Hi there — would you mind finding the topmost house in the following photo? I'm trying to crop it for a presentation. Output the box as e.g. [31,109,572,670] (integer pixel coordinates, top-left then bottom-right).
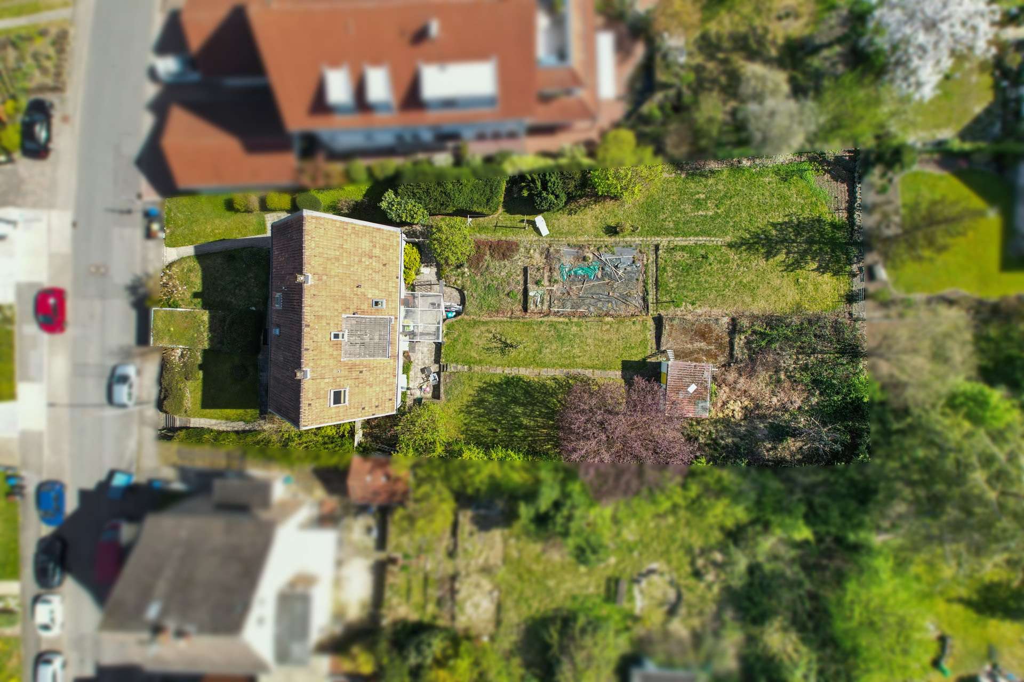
[159,0,597,193]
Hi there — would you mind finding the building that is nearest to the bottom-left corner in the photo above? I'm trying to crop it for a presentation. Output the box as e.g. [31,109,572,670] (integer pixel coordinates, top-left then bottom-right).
[97,471,344,682]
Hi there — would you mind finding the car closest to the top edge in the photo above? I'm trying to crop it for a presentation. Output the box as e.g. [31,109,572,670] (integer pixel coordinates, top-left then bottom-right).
[151,55,201,82]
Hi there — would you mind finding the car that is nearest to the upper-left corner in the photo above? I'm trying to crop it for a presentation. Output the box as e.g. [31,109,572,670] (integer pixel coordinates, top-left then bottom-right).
[21,103,51,156]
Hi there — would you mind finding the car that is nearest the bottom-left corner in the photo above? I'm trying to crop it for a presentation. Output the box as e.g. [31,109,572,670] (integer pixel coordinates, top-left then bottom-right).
[37,647,65,682]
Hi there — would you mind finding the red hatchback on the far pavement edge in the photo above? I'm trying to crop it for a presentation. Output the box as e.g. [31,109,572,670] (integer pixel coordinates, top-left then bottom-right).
[34,287,64,334]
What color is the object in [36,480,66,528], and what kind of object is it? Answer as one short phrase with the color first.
blue car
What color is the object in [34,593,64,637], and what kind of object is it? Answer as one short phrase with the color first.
white car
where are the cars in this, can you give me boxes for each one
[109,362,138,407]
[96,527,126,580]
[21,103,51,156]
[37,647,65,682]
[35,535,66,589]
[34,593,64,637]
[151,55,201,82]
[34,287,64,334]
[36,480,66,528]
